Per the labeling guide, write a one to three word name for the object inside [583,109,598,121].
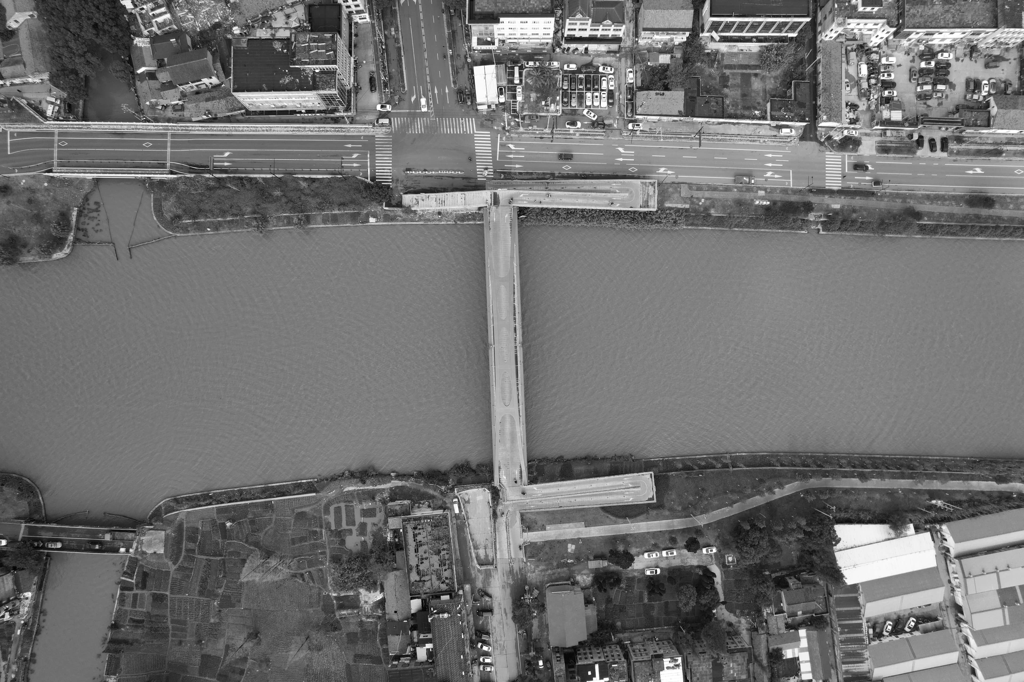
vehicle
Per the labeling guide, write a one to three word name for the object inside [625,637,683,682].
house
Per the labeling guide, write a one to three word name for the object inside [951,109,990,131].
building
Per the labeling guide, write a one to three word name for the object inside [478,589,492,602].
vehicle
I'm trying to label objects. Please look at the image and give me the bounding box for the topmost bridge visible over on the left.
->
[43,120,341,180]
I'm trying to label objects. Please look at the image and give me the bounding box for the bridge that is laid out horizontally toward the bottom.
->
[0,522,140,555]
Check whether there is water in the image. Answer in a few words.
Yes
